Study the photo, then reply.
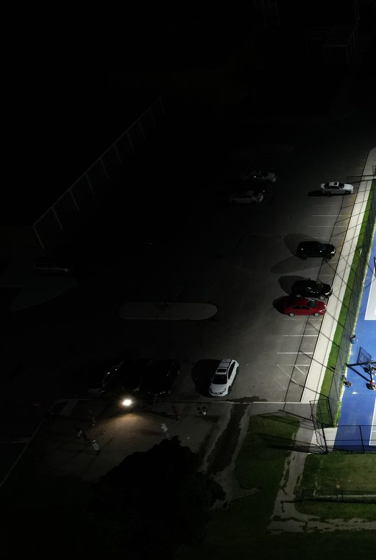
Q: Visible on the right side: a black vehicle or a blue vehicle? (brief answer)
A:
black vehicle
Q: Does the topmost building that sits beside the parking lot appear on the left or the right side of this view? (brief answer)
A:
right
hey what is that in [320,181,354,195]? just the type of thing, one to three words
vehicle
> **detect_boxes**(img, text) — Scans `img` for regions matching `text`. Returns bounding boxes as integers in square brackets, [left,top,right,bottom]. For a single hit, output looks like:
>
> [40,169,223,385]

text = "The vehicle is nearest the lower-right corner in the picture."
[209,355,240,393]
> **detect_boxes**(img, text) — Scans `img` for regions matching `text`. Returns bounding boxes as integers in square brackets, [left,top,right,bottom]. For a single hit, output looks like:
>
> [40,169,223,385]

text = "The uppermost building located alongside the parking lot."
[221,22,358,62]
